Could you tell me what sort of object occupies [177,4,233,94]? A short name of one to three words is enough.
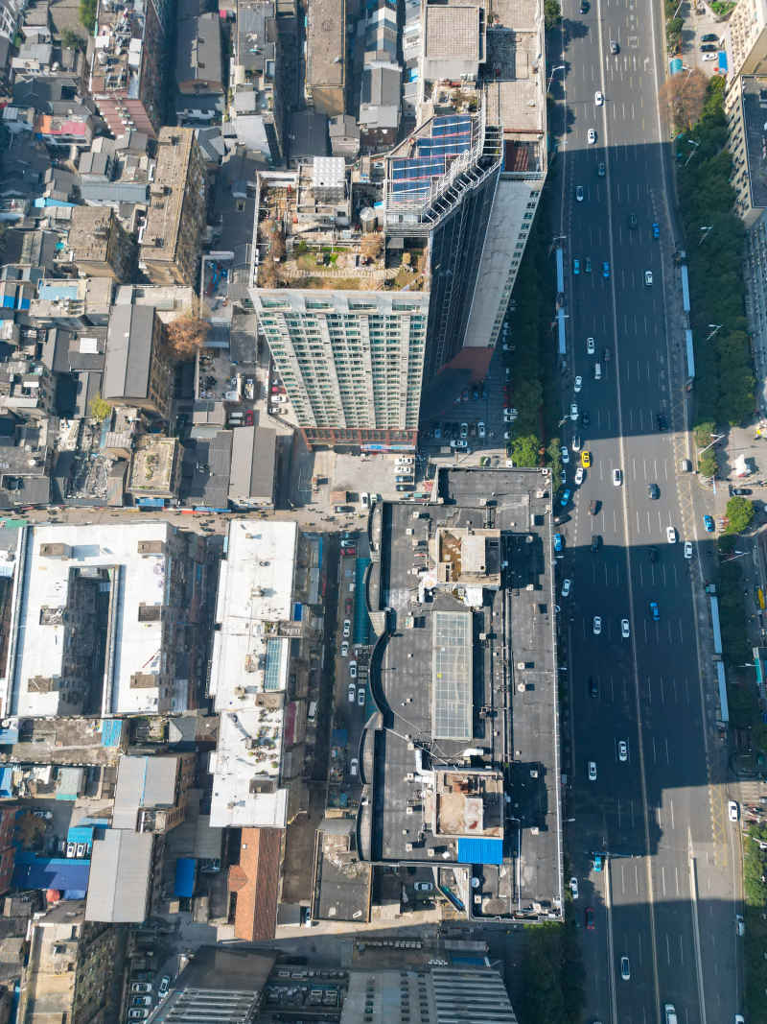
building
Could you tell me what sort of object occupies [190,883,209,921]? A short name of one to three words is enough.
shed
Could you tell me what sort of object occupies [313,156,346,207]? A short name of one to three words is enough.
water tank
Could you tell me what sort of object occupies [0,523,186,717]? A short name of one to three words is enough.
building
